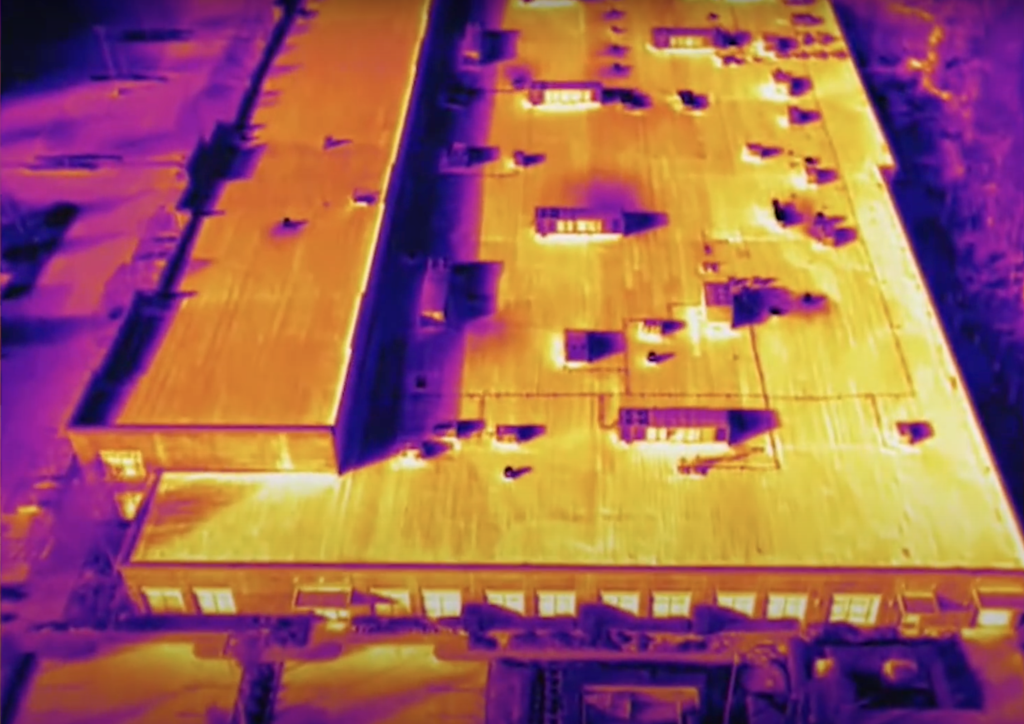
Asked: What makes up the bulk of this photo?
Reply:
buildings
